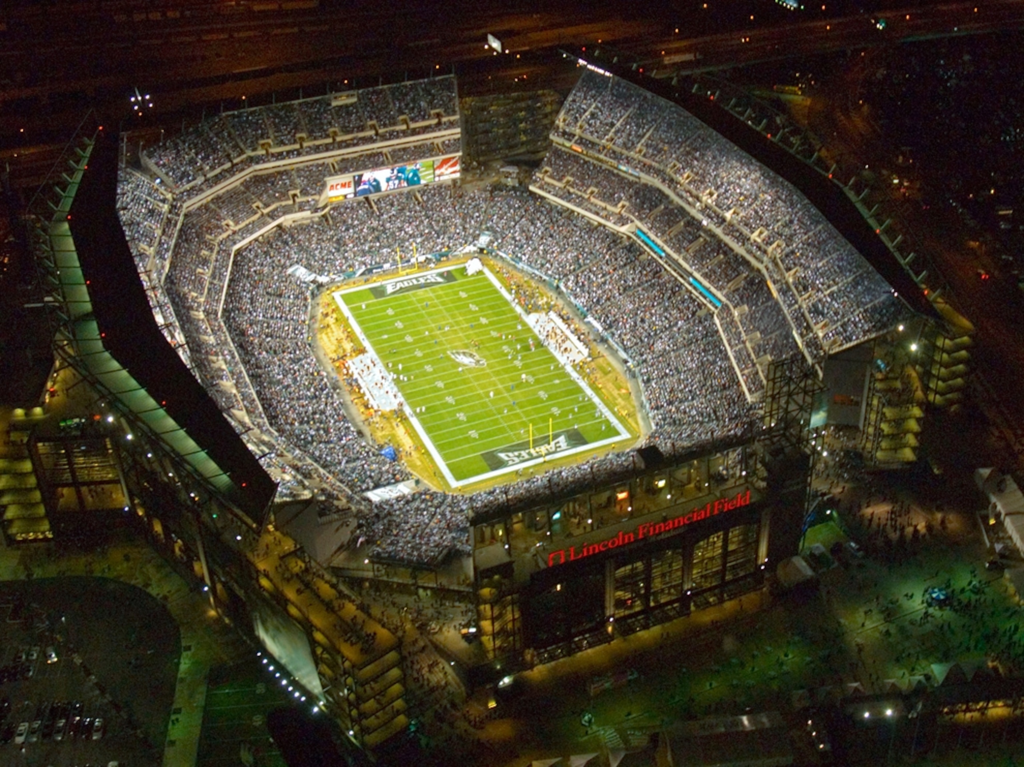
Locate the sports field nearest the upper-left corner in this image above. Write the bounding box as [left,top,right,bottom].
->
[340,265,621,481]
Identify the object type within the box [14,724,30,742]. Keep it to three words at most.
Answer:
car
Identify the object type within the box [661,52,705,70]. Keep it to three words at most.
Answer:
vehicle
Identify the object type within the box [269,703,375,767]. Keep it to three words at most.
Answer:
building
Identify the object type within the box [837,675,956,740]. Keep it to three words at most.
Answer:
building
